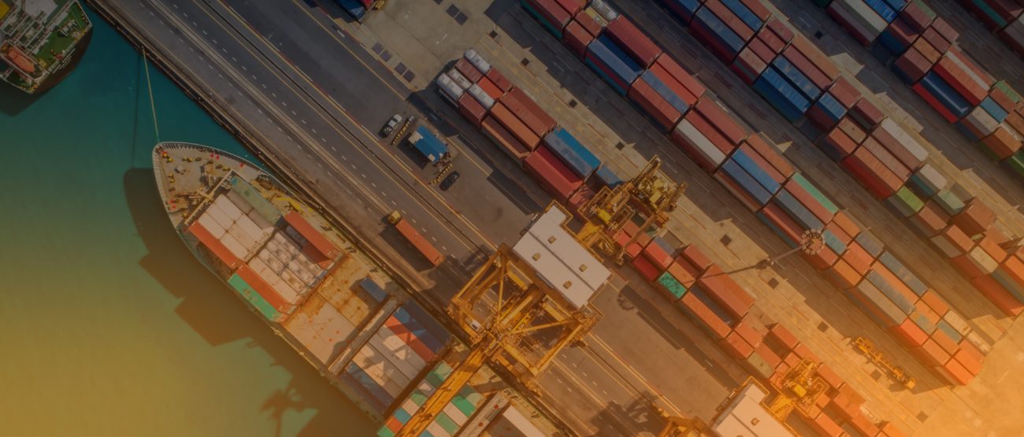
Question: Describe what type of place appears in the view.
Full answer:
The picture captures a port.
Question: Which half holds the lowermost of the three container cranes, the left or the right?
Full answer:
The lowermost of the three container cranes is on the right side of the image.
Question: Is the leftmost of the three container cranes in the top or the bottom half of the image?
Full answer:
The bottom half of the photo is where the leftmost of the three container cranes is.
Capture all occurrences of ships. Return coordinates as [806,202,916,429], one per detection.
[156,143,567,437]
[0,0,95,93]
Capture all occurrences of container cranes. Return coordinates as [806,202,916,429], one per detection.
[393,183,635,437]
[605,152,691,271]
[651,357,830,437]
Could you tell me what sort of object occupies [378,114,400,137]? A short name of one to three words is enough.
truck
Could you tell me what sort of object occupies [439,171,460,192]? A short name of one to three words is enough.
car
